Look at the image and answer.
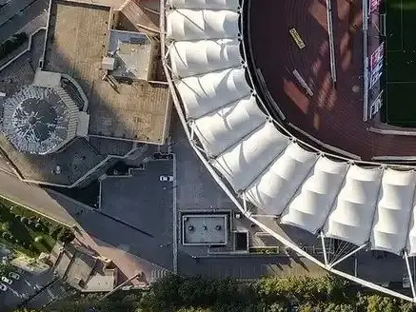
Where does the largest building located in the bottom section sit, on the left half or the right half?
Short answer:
left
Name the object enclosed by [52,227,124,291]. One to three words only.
building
